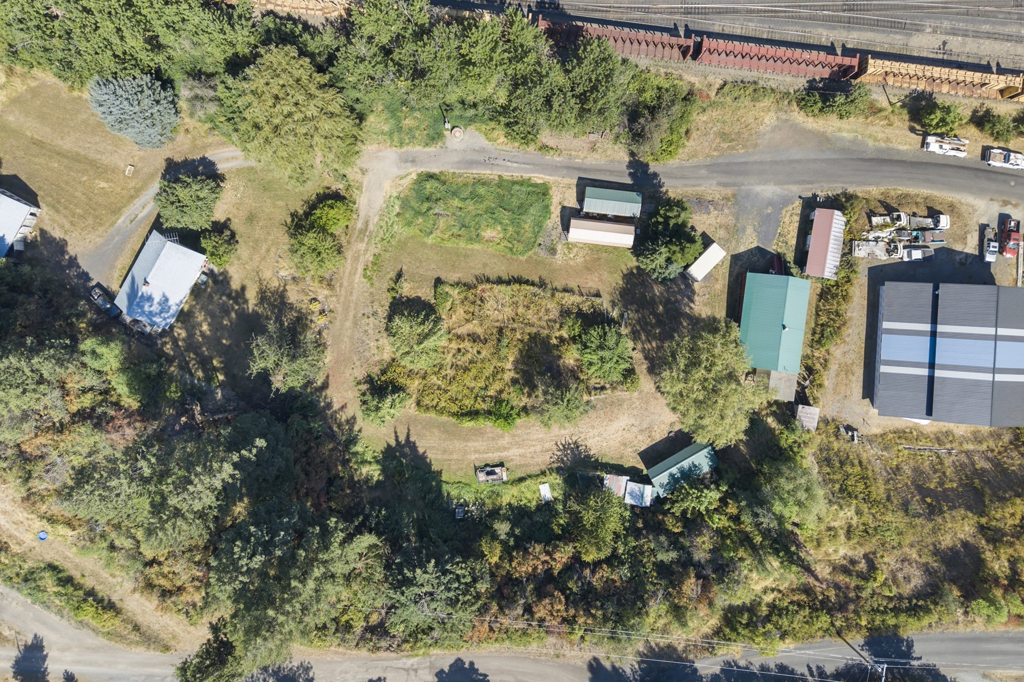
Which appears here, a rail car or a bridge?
rail car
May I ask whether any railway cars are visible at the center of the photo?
No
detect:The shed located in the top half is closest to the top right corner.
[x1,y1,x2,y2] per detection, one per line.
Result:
[801,209,847,280]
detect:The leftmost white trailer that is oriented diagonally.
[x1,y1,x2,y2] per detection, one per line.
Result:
[683,243,725,282]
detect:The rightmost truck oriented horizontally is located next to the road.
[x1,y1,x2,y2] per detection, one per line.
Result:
[984,148,1024,172]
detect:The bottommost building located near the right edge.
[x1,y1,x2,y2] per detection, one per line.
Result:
[869,284,1024,427]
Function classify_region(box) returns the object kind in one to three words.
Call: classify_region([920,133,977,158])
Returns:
truck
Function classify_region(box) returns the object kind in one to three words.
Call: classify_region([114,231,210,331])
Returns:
house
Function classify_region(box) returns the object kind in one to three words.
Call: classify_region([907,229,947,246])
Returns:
vehicle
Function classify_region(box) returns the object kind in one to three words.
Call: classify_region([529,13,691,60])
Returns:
rail car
